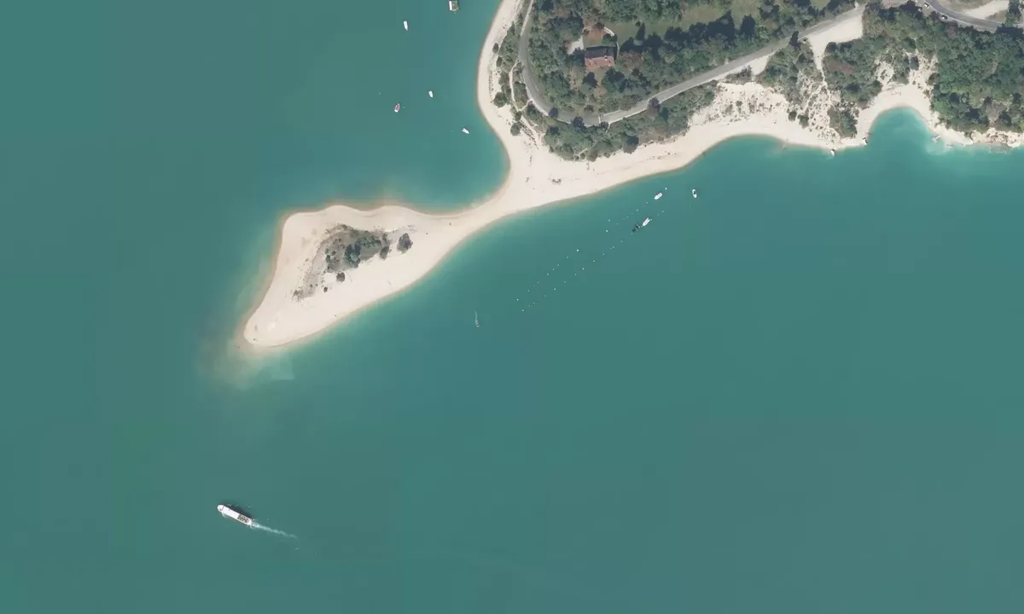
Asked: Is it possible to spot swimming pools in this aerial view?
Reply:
No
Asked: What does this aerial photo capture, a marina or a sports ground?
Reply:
marina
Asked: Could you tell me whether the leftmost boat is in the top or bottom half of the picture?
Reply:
bottom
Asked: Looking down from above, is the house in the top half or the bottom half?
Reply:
top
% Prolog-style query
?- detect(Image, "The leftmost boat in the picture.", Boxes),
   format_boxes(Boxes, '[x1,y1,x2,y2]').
[217,505,255,526]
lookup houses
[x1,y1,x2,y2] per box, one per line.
[586,45,616,66]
